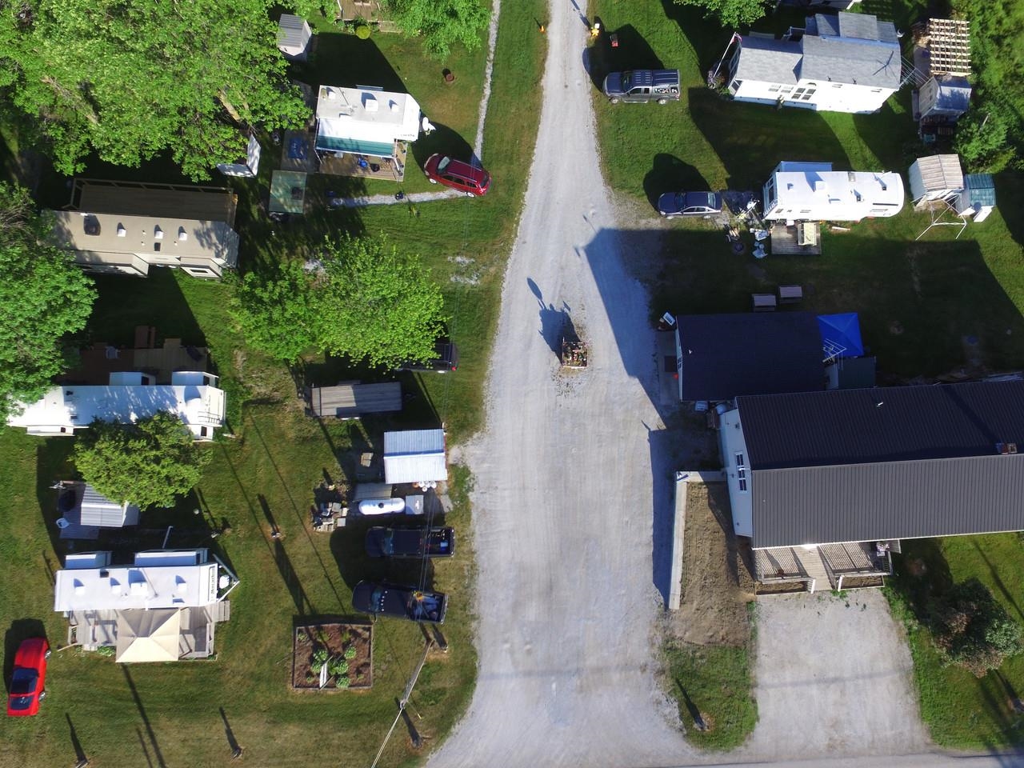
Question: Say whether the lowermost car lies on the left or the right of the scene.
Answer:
left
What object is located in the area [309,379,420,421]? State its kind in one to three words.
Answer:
trailer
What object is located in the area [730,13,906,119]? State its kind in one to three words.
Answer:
house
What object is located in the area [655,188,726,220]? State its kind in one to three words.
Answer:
car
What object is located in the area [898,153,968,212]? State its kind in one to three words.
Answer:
shed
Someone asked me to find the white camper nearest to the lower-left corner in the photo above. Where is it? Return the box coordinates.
[54,545,239,611]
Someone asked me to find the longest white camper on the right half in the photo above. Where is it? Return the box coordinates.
[762,161,903,227]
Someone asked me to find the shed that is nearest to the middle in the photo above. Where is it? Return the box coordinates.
[382,429,448,484]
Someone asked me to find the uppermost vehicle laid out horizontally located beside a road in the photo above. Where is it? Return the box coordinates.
[602,69,683,106]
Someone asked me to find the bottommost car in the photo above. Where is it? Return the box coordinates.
[4,634,57,722]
